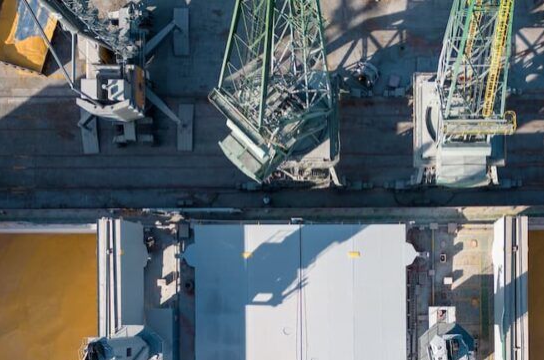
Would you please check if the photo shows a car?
No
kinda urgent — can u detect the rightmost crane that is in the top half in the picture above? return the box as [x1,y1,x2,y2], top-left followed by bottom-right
[390,0,524,192]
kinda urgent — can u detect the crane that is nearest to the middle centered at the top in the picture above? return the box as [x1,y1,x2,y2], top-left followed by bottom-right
[197,0,362,189]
